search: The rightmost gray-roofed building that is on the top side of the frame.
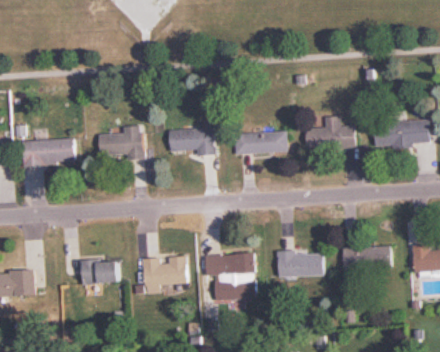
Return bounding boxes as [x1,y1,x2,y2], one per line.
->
[374,119,433,150]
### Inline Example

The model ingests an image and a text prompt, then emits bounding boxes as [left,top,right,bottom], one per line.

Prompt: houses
[169,128,217,156]
[97,124,148,160]
[305,116,358,149]
[79,260,120,284]
[142,256,189,294]
[204,254,258,302]
[22,140,76,170]
[374,119,433,150]
[276,252,324,276]
[412,244,440,272]
[237,130,290,155]
[342,246,392,270]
